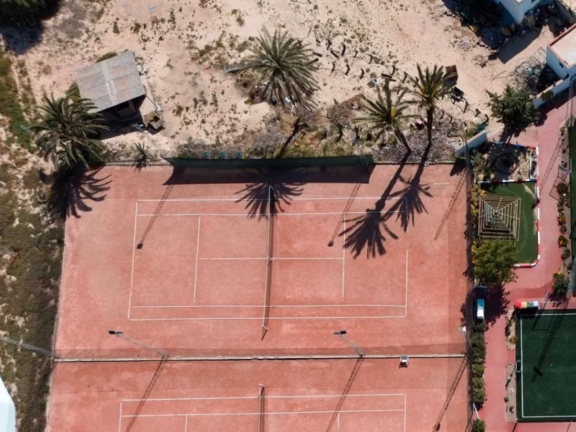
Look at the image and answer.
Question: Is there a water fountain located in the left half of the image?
No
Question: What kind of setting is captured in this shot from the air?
sports ground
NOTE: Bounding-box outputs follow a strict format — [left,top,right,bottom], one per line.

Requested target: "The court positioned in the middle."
[55,163,469,359]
